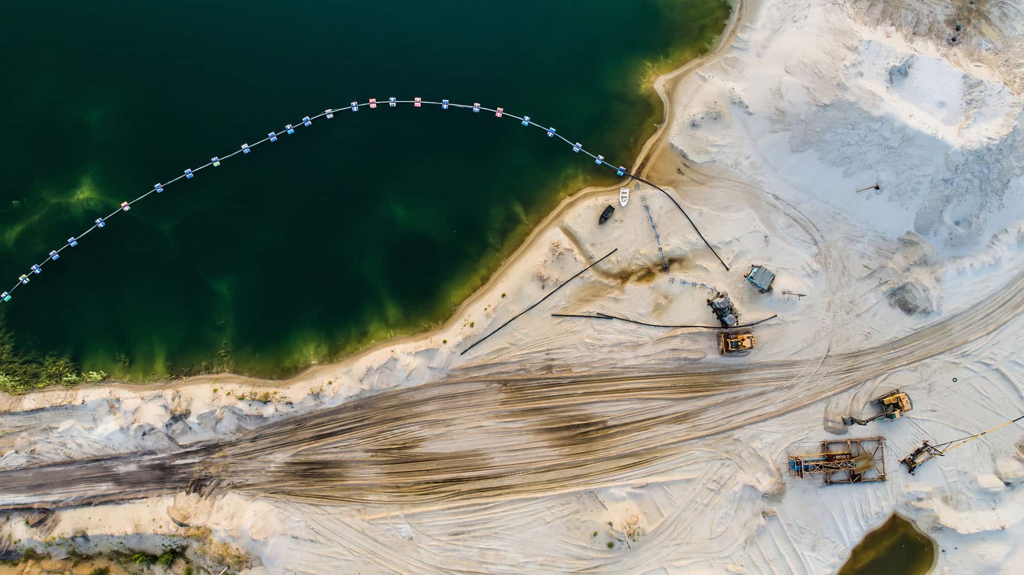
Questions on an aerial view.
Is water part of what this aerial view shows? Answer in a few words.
Yes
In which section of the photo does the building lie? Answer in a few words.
right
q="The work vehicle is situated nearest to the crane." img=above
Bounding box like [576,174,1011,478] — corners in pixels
[843,390,909,422]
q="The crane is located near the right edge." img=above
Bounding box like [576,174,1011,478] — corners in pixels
[897,416,1024,476]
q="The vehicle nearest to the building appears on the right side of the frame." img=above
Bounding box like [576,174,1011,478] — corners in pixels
[714,333,753,356]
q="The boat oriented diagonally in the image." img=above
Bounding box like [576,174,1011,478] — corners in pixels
[600,204,616,223]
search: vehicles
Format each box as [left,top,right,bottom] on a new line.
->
[843,390,909,422]
[714,333,753,356]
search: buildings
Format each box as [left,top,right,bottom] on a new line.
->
[746,267,773,291]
